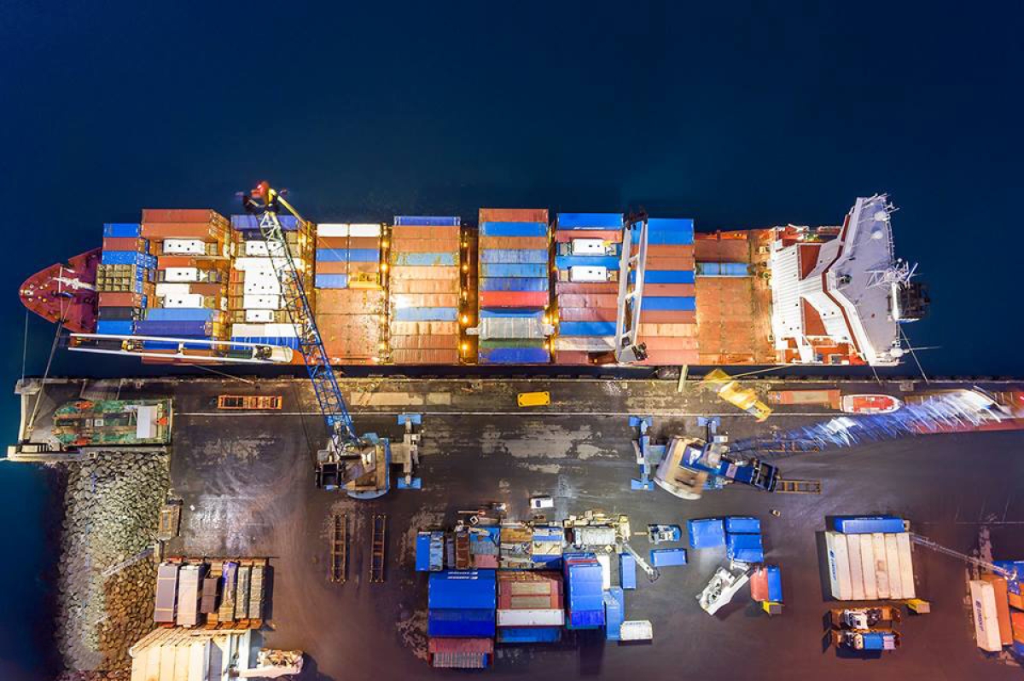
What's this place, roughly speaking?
port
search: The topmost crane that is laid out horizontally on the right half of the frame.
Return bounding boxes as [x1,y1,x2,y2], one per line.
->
[628,383,1002,493]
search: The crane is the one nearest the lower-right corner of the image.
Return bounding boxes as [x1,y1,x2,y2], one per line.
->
[901,530,1024,592]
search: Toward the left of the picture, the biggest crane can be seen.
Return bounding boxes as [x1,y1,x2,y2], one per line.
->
[231,179,422,502]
